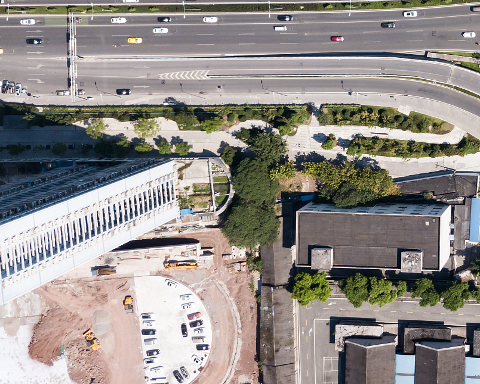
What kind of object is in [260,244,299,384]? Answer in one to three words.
shed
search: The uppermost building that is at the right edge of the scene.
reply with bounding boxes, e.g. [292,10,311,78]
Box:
[394,172,480,196]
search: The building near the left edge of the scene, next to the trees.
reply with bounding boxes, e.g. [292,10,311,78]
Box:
[0,147,190,299]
